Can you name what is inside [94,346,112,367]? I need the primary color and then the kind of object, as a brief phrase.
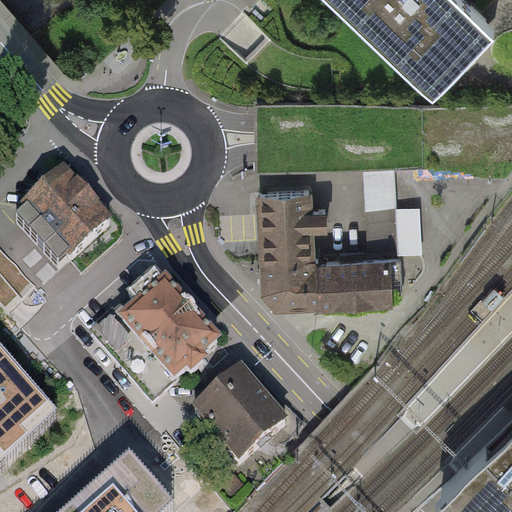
white car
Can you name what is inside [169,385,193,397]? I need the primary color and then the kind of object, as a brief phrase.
white vehicle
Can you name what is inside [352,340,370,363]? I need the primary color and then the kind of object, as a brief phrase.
white car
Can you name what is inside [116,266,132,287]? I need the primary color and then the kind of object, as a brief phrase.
black car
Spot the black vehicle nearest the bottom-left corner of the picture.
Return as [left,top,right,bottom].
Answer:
[38,466,60,488]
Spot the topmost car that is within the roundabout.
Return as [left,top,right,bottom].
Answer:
[120,115,138,135]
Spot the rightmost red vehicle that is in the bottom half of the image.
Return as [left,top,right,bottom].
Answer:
[116,396,136,417]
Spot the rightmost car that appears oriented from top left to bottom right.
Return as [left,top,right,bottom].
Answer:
[253,338,274,360]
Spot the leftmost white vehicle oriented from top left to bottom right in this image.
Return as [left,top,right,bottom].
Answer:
[26,474,50,499]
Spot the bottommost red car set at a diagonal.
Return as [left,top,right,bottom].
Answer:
[12,486,34,510]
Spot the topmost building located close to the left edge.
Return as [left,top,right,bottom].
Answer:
[16,160,112,264]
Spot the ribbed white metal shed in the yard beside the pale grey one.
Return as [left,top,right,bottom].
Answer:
[397,208,423,261]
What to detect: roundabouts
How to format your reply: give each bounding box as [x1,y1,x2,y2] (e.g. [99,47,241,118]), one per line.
[60,86,254,254]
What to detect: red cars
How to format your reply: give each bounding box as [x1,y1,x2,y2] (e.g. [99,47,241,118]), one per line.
[12,486,34,510]
[116,396,136,417]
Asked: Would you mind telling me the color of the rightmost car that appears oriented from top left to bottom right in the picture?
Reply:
black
